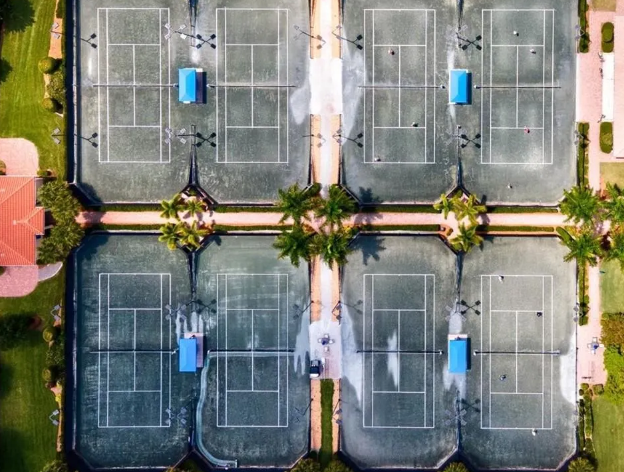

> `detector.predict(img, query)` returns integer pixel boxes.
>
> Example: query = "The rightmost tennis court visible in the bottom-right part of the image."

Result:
[460,237,577,466]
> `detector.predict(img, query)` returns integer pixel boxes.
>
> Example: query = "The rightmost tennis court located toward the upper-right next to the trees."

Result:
[460,0,577,204]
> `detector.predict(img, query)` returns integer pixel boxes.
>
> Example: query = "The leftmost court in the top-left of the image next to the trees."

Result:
[76,0,192,203]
